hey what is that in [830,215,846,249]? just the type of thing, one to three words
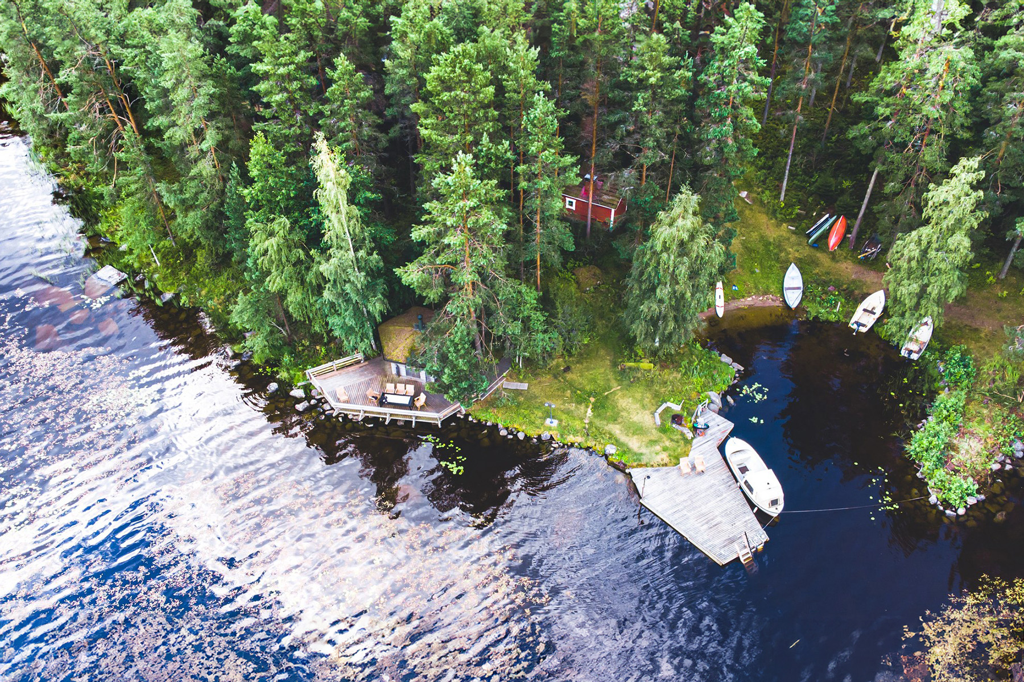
boat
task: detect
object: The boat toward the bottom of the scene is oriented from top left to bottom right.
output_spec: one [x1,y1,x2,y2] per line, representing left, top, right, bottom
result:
[726,439,780,511]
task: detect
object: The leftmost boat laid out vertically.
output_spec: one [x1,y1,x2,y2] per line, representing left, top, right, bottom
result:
[783,258,805,307]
